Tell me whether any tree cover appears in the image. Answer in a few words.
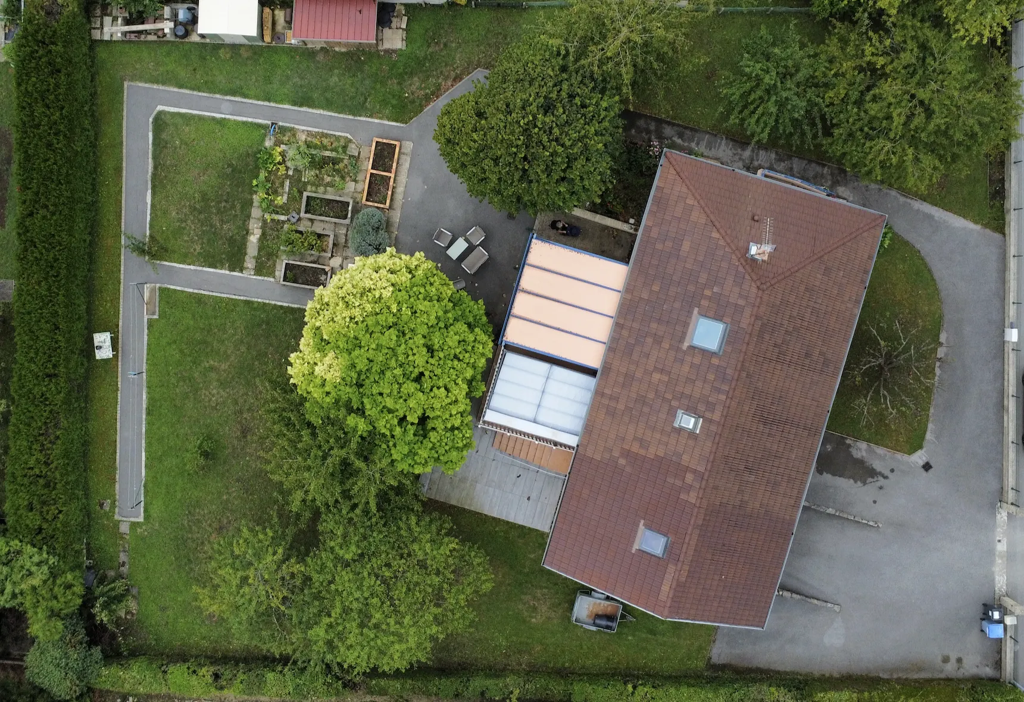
Yes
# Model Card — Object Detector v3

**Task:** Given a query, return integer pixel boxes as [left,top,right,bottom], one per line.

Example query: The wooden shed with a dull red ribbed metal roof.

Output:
[290,0,378,47]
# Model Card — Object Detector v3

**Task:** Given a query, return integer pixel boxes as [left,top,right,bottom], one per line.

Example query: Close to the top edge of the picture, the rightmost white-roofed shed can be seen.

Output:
[198,0,264,45]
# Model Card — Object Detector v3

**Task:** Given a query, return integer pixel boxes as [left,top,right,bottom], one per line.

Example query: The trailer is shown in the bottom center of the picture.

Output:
[571,593,639,638]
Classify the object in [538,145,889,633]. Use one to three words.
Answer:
house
